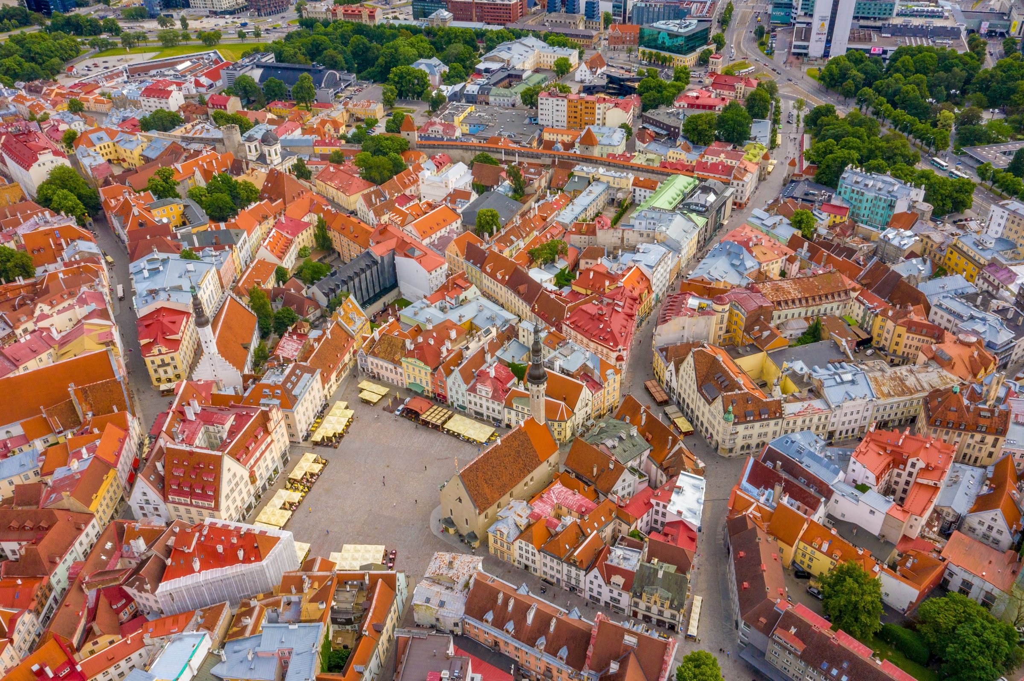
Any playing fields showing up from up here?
No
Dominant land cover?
buildings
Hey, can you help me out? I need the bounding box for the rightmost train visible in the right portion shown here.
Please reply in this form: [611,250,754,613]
[734,60,768,74]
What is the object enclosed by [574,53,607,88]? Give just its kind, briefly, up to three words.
house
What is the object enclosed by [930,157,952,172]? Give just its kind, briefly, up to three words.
vehicle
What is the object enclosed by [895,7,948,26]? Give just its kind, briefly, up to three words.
building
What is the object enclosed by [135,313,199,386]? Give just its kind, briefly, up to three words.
building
